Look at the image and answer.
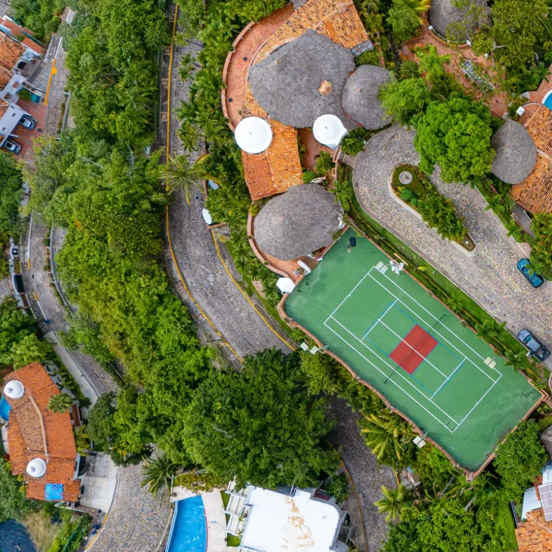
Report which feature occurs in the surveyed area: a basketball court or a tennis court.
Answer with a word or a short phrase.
tennis court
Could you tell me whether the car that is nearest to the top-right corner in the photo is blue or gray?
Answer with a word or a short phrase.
blue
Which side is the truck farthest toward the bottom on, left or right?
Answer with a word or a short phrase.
right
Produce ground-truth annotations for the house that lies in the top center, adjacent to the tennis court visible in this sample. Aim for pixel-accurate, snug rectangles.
[220,0,395,278]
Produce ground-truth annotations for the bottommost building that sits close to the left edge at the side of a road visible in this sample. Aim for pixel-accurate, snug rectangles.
[1,362,86,502]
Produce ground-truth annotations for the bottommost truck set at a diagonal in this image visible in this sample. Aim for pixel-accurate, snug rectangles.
[516,326,552,366]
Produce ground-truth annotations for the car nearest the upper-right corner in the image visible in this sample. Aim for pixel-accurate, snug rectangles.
[516,257,544,290]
